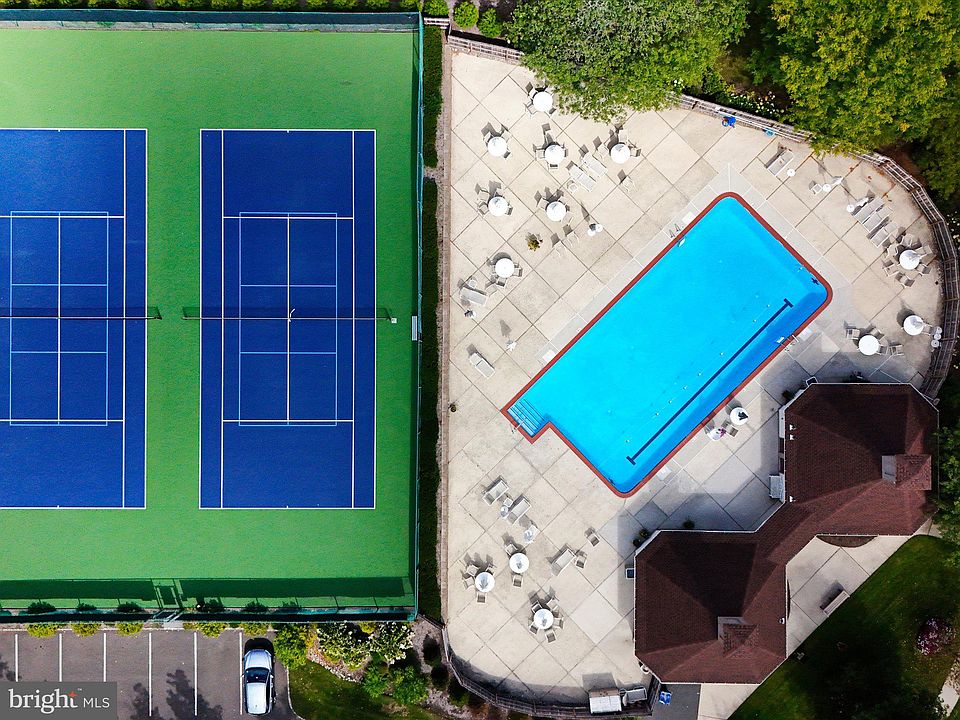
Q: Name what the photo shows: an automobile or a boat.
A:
automobile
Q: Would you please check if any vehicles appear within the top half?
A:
No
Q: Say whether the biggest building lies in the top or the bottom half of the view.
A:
bottom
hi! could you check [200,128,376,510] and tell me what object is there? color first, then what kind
blue tennis court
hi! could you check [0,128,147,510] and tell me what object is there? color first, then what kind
blue tennis court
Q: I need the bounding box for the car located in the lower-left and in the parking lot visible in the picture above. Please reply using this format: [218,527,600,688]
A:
[239,645,276,719]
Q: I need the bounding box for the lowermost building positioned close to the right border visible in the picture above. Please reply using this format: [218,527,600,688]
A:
[634,383,939,683]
